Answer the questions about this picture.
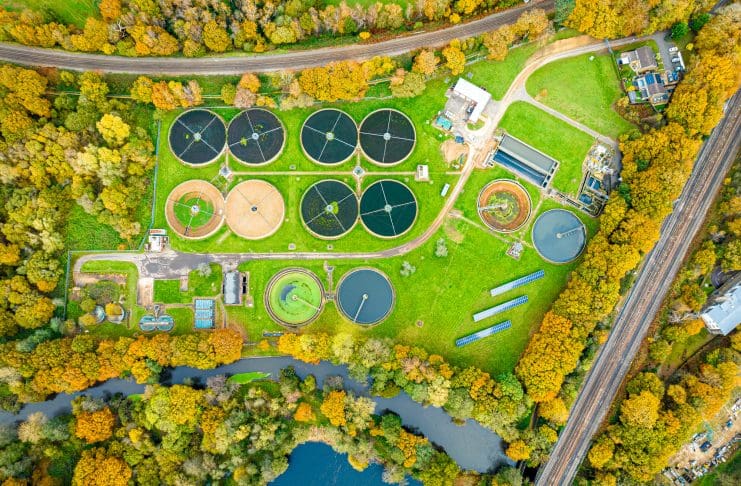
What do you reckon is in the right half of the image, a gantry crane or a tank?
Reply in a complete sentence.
Looking in the right half of the image, you will find a tank.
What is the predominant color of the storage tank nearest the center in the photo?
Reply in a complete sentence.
The storage tank nearest the center is blue.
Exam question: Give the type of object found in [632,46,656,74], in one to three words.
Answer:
house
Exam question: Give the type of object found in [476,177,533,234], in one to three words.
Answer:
storage tank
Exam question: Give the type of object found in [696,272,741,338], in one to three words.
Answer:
building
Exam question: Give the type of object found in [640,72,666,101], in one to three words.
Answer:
house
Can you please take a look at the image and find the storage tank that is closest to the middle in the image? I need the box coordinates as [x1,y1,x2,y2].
[336,267,394,326]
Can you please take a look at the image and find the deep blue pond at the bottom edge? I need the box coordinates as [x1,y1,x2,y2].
[266,440,418,486]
